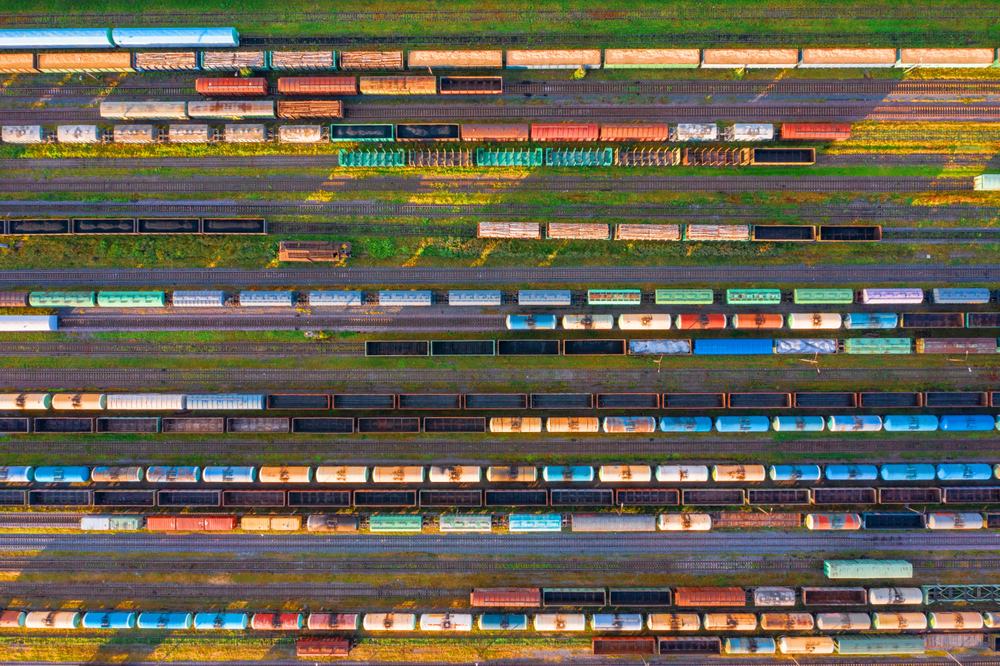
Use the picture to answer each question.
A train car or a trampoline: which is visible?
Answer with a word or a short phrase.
train car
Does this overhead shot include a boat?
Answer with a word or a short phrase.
Yes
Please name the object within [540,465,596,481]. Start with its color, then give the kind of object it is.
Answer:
blue rail car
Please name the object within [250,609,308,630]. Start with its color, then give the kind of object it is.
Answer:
red rail car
